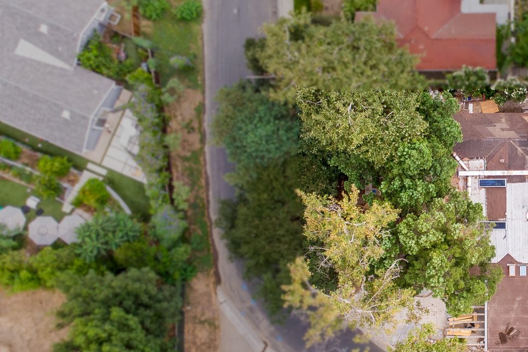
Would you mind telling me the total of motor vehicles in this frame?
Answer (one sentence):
No motor vehicles are visible.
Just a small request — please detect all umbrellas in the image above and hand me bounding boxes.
[0,206,34,236]
[30,216,60,246]
[60,212,93,242]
